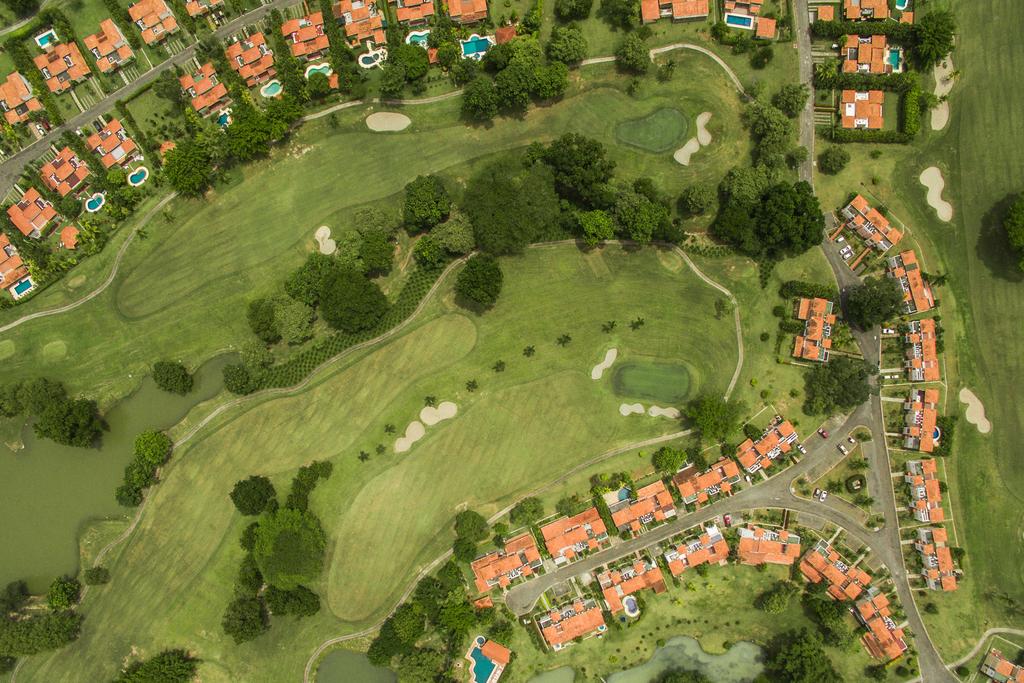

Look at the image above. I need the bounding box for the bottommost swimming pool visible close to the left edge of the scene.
[12,276,38,298]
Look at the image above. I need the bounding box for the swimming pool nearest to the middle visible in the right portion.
[602,486,632,502]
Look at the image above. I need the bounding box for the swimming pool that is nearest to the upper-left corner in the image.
[35,29,58,48]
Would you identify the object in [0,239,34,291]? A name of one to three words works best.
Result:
house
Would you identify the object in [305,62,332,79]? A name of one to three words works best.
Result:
swimming pool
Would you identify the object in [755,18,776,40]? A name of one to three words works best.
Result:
shed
